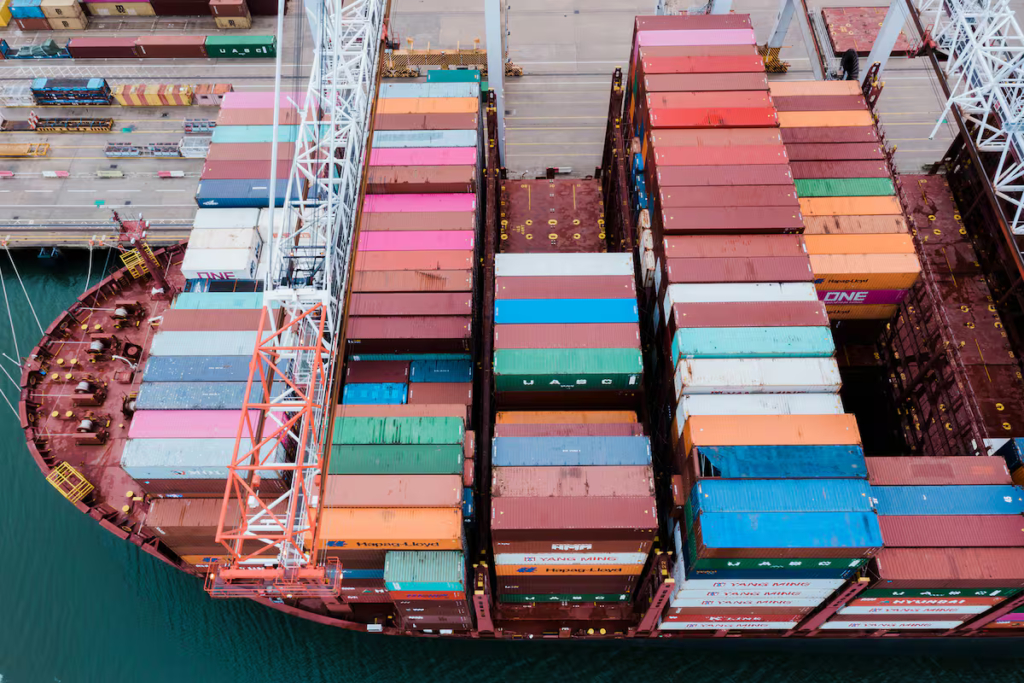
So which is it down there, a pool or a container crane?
container crane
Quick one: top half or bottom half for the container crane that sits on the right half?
top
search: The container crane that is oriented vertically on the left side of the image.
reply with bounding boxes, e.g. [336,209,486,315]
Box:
[202,0,529,601]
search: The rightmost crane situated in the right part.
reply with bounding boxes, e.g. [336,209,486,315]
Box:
[658,0,1024,309]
